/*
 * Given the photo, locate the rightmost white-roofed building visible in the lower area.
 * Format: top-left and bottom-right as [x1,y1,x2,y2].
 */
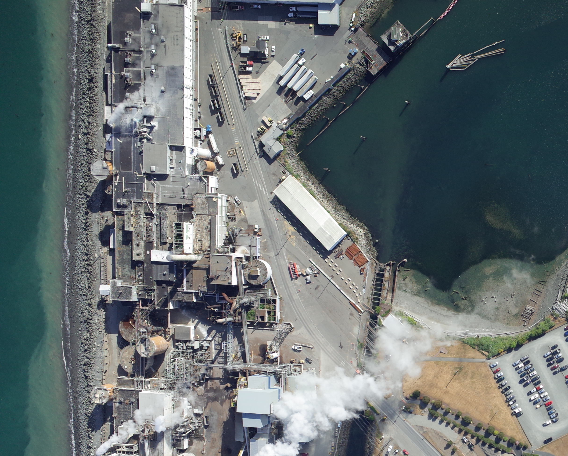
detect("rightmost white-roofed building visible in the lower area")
[382,314,409,343]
